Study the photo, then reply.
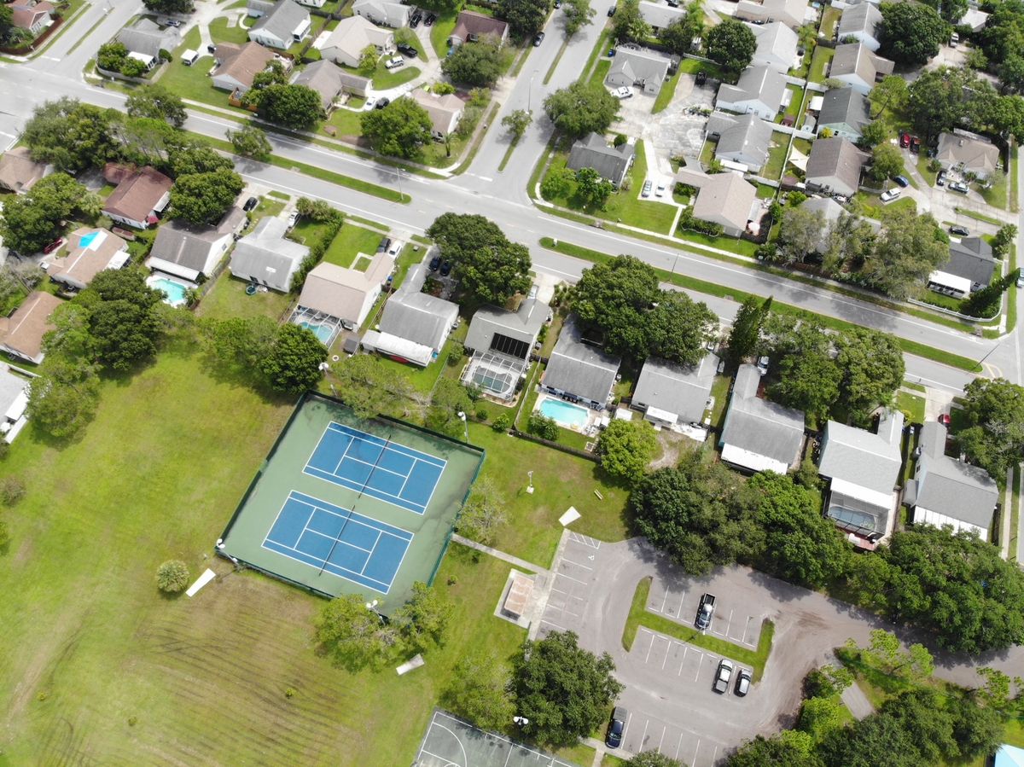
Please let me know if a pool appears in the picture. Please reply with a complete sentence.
Yes, you can see a pool in this photo.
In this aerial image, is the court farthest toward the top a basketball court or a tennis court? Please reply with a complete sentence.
I'd identify the court farthest toward the top as a tennis court.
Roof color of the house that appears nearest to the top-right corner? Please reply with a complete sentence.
The color of the roof on the house that appears nearest to the top-right corner is white.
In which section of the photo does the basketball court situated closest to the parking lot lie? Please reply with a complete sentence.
The basketball court situated closest to the parking lot is in the bottom part of the image.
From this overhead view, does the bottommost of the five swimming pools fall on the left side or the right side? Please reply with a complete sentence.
It is on the right.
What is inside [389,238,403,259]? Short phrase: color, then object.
white car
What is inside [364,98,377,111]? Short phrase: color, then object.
white vehicle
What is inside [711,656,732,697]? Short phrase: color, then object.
white truck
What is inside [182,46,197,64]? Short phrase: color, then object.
white vehicle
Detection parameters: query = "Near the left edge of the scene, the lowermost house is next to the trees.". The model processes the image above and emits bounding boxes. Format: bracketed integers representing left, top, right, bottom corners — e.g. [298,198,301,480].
[0,372,43,440]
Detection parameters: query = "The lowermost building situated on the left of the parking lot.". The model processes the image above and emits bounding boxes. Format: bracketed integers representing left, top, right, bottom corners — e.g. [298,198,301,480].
[504,575,534,616]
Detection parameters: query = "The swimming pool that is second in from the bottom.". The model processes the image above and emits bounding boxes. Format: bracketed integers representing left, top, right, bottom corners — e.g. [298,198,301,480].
[531,391,615,437]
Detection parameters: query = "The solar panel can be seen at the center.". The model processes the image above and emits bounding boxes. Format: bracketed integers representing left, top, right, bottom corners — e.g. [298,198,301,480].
[488,331,530,361]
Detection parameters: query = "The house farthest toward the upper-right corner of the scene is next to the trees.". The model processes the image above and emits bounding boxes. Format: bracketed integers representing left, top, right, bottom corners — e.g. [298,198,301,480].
[958,7,978,36]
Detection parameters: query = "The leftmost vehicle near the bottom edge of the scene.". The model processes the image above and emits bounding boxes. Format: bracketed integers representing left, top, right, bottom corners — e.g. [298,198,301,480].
[606,706,626,750]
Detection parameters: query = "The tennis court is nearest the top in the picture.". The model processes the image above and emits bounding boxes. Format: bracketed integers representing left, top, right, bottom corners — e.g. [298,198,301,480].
[269,397,479,534]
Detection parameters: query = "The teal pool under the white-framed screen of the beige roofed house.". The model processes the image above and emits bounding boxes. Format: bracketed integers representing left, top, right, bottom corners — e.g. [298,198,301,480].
[289,305,340,347]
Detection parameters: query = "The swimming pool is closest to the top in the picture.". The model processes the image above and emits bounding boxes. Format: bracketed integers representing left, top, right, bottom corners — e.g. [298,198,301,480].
[151,270,198,307]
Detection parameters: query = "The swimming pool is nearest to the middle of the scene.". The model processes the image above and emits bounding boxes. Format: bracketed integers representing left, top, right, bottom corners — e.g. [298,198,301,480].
[462,352,526,402]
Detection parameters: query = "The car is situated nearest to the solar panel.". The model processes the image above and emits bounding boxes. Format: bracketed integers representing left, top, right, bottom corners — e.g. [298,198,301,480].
[526,283,540,299]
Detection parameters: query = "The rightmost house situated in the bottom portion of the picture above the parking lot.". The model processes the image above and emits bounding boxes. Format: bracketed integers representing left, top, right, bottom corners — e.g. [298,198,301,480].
[912,419,998,533]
